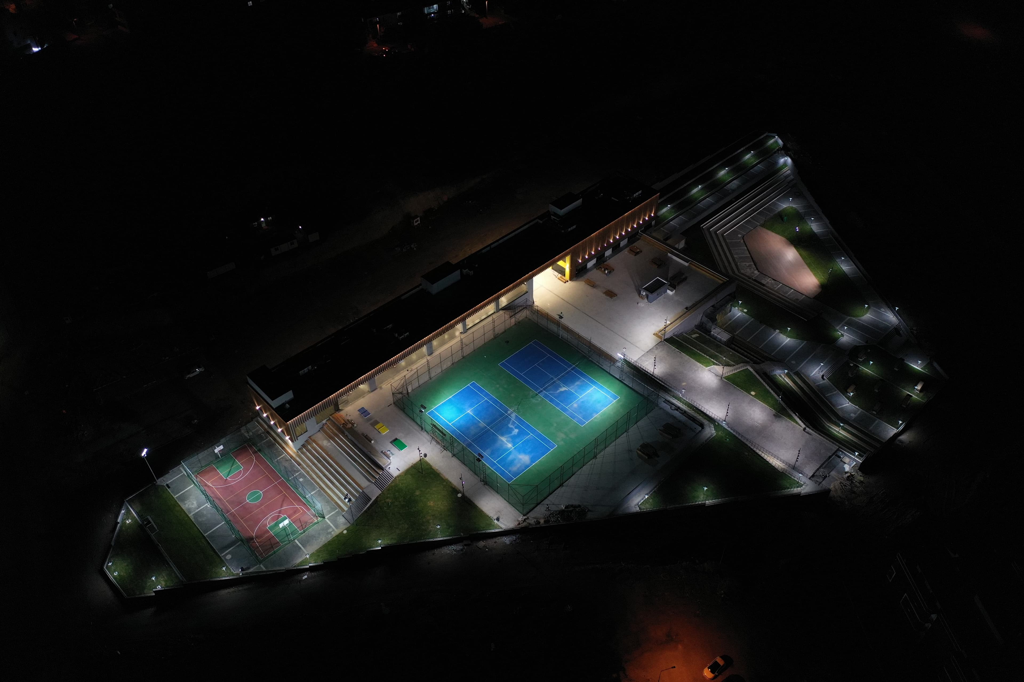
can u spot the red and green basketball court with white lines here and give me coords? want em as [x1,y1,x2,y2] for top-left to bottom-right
[188,437,323,562]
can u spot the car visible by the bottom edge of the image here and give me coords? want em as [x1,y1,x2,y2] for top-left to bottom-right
[702,655,728,681]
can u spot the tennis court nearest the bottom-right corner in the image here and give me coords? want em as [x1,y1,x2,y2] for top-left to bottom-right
[395,317,657,514]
